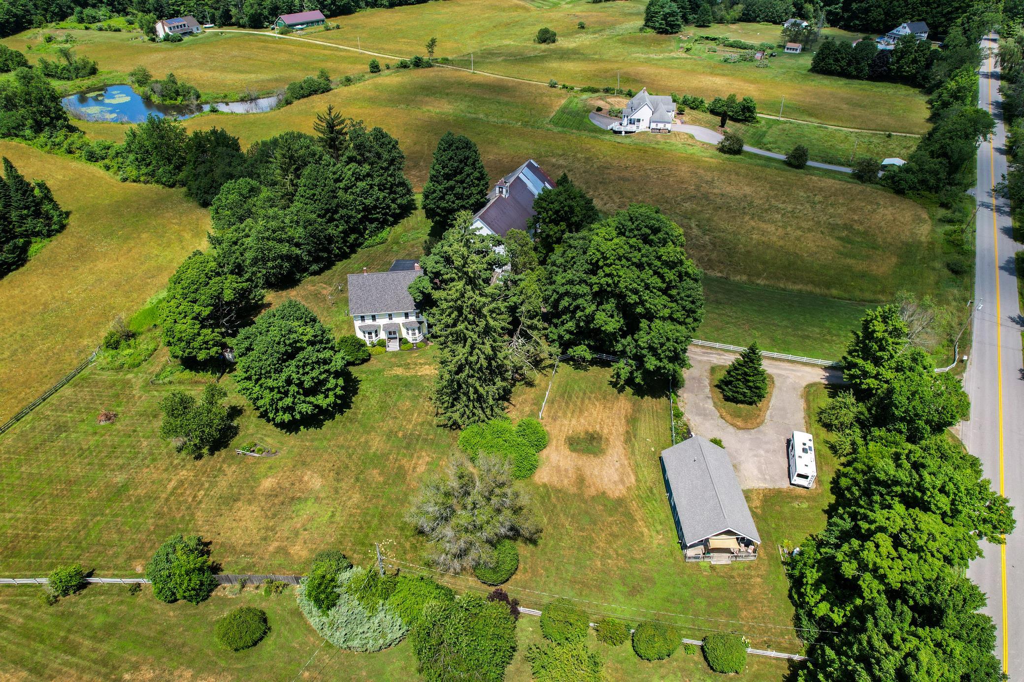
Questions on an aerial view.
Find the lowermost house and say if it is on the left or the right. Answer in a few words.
right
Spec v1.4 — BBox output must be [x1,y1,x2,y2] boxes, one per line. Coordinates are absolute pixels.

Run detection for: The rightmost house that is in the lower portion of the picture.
[659,436,761,569]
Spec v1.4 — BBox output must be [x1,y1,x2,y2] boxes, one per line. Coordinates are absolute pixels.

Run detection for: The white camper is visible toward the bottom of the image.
[783,433,814,493]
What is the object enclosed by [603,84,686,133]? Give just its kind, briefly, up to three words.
house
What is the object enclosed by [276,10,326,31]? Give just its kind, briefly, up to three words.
barn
